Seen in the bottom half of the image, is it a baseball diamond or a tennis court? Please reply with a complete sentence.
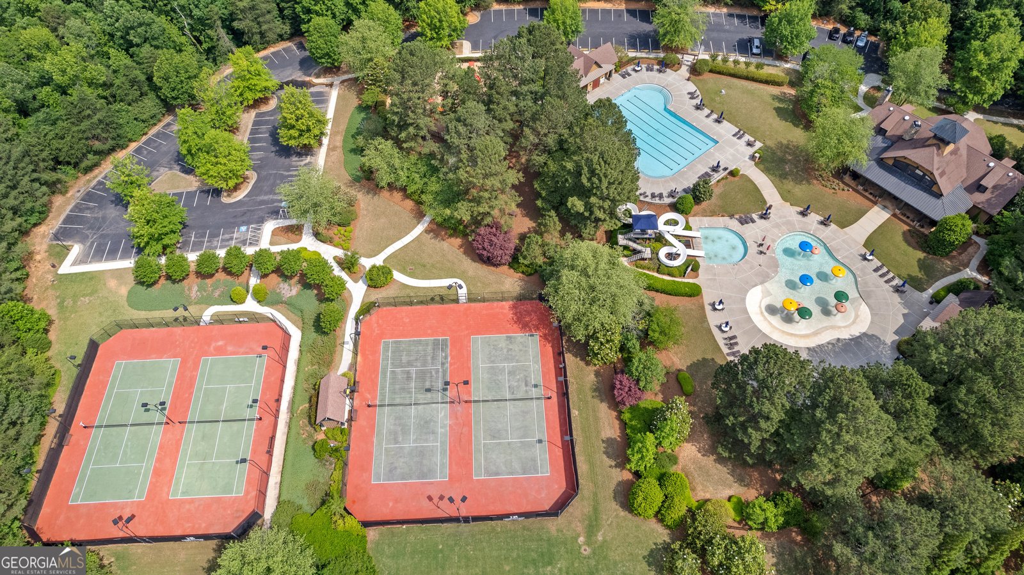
The feature located in the bottom half of the image is a tennis court.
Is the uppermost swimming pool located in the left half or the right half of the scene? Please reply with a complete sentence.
It is on the right.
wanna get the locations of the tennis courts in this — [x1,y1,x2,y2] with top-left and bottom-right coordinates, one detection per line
[460,300,577,519]
[345,304,461,522]
[33,326,199,542]
[147,323,290,538]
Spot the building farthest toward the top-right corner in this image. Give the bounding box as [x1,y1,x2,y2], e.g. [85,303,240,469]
[830,87,1024,235]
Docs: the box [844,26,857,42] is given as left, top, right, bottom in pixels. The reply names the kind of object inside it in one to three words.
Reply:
vehicle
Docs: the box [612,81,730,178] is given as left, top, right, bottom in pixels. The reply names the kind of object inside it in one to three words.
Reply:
swimming pool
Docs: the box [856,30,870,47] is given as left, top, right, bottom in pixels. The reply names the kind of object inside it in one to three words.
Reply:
car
